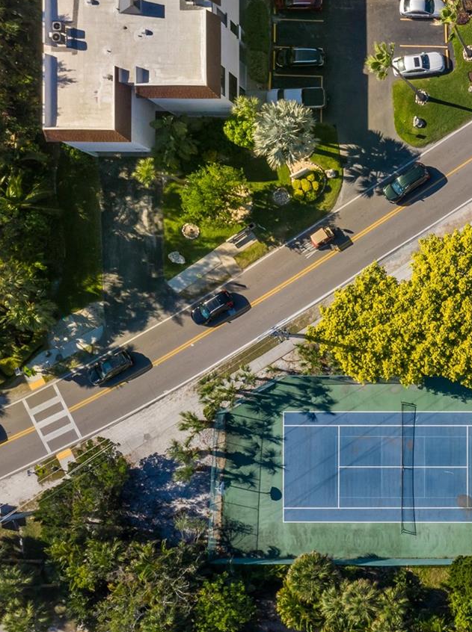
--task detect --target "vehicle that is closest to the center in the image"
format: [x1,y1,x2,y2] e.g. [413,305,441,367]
[189,289,238,327]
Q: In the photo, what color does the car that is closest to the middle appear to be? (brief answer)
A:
black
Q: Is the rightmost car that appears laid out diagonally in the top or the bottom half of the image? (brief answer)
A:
top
